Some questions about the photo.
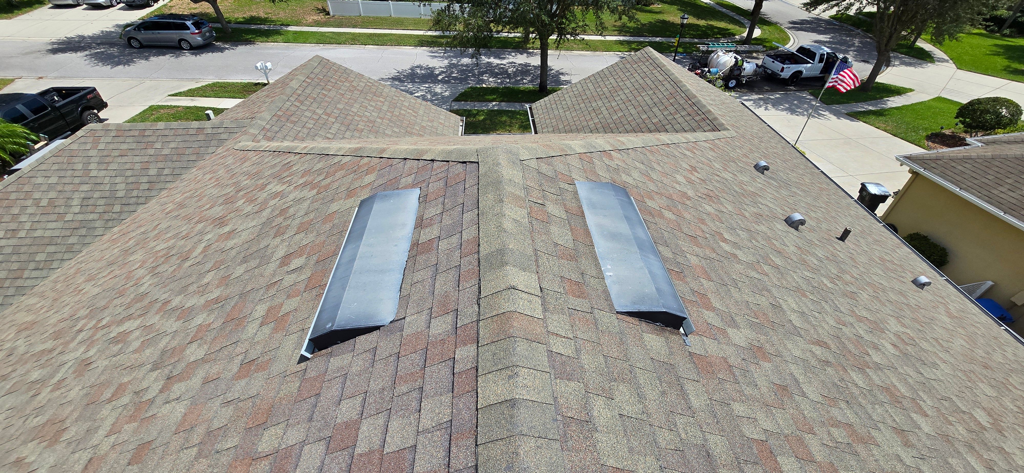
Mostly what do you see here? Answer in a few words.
buildings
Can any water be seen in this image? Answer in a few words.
No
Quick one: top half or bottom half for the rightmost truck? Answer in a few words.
top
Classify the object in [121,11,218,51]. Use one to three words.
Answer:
car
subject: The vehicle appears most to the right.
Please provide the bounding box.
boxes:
[757,38,863,87]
